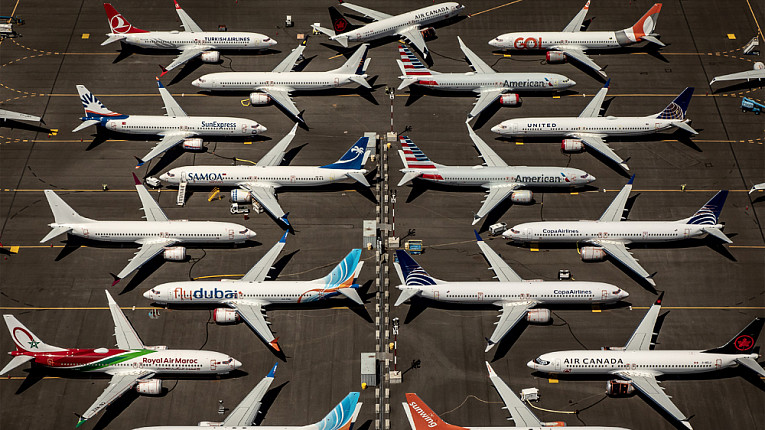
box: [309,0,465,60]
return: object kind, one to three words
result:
airplane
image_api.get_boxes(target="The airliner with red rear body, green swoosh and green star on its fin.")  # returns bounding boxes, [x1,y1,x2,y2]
[0,287,241,428]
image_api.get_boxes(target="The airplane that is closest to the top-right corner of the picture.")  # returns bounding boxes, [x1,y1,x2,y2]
[711,58,765,83]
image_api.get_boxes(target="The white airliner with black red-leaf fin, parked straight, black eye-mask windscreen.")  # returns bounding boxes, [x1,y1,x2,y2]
[527,288,765,430]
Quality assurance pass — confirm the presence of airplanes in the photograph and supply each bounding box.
[489,0,666,77]
[309,0,465,60]
[403,357,631,430]
[393,226,628,353]
[398,121,595,225]
[72,74,267,169]
[527,288,765,430]
[143,225,363,352]
[0,287,241,428]
[492,75,699,170]
[191,34,371,122]
[128,355,363,430]
[159,120,370,225]
[752,180,765,193]
[397,35,577,122]
[100,0,277,77]
[711,58,765,83]
[0,112,42,126]
[503,171,733,286]
[40,170,256,285]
